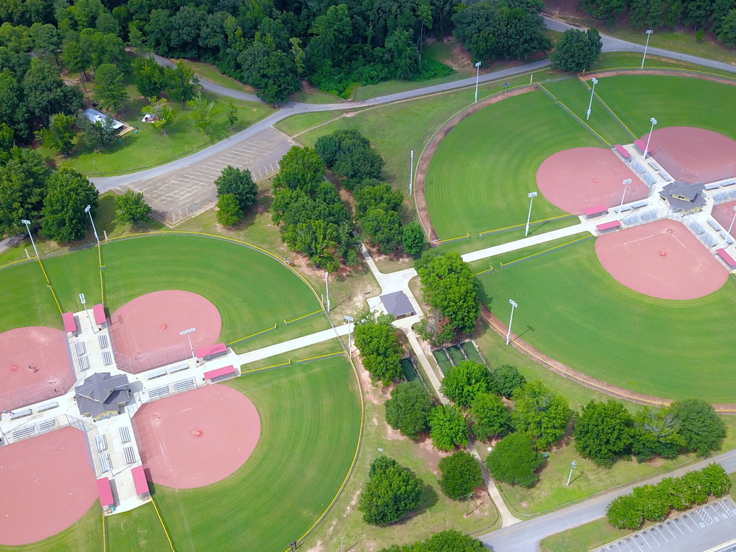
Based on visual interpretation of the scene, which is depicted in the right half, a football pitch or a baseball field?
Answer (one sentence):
Looking in the right half, you will find a baseball field.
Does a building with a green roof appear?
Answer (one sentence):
No, there appears to be no building with a green roof in this shot.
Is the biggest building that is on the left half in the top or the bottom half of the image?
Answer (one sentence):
It is in the bottom half that the biggest building that is on the left half appears.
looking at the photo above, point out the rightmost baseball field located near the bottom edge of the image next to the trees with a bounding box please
[129,352,365,552]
